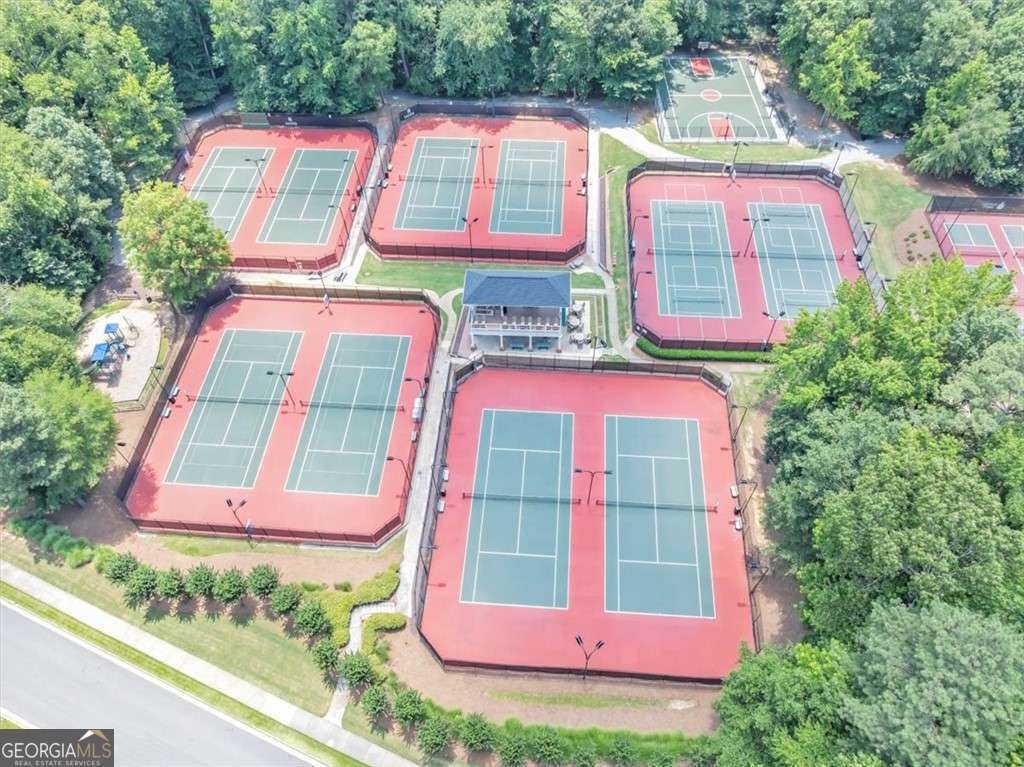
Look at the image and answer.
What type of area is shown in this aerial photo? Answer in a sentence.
This image shows a sports ground.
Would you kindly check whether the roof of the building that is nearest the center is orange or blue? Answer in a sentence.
From above, the roof of the building that is nearest the center appears blue.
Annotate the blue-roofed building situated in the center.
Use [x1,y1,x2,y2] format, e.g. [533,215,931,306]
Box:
[462,269,571,353]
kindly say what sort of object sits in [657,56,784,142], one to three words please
basketball court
